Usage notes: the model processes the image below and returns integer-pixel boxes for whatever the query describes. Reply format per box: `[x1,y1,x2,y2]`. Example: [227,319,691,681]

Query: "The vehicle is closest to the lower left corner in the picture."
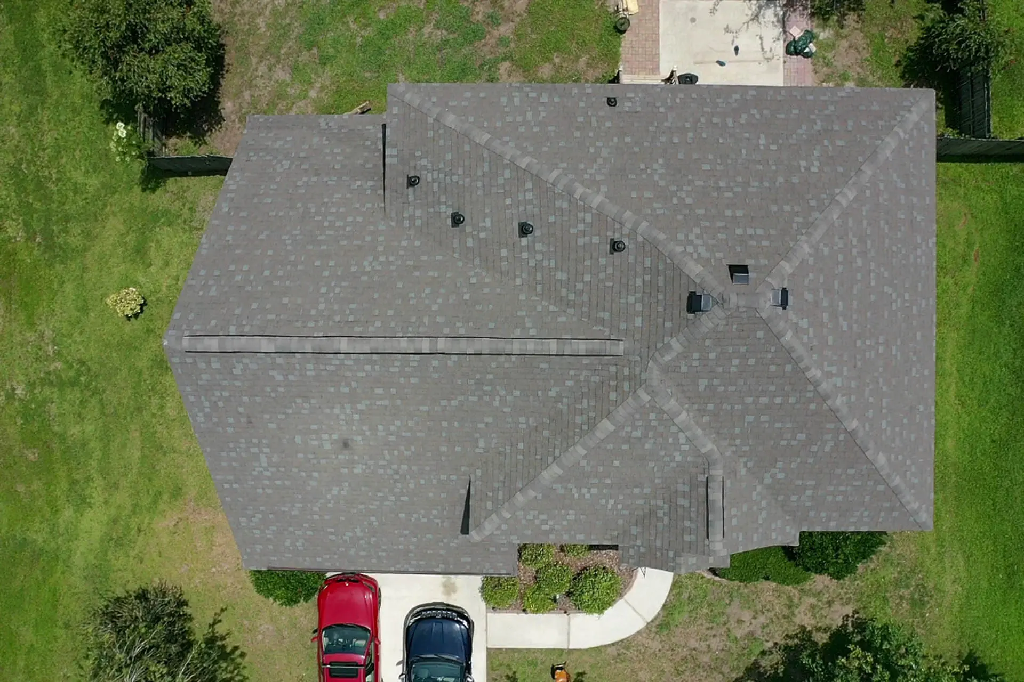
[306,574,381,682]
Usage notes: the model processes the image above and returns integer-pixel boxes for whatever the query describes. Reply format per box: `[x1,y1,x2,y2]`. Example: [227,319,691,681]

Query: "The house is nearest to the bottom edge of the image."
[165,82,937,577]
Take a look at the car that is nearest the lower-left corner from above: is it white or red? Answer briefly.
red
